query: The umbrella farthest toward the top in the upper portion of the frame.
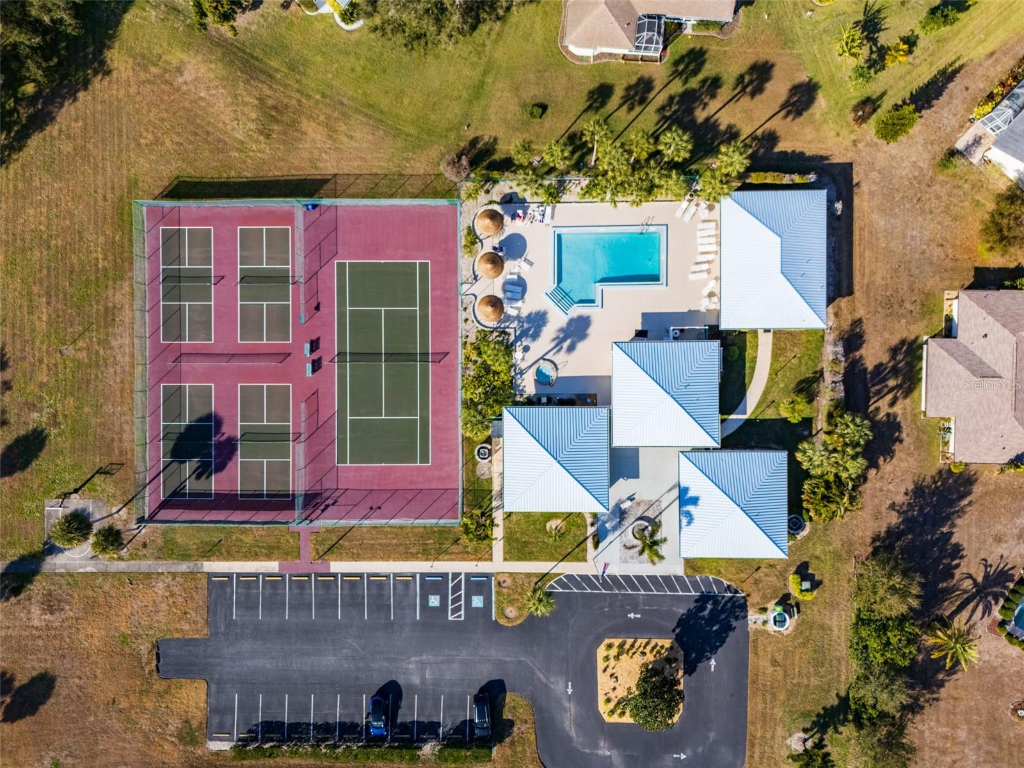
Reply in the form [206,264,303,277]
[474,207,505,238]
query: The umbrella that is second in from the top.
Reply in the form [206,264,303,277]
[475,251,506,281]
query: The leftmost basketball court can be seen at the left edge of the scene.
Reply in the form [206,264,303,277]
[45,500,106,561]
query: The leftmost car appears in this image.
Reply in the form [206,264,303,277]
[369,695,388,734]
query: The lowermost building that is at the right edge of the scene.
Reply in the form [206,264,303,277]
[923,290,1024,463]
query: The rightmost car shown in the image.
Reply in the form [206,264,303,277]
[474,693,494,736]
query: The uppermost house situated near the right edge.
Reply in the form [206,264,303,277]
[978,77,1024,186]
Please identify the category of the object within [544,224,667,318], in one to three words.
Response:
swimming pool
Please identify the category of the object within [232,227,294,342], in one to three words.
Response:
sports court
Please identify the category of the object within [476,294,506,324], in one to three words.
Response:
umbrella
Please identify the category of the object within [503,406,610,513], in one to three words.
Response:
building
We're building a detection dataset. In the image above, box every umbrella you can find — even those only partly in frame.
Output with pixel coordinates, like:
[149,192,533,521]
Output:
[476,294,506,324]
[475,251,506,281]
[474,207,505,238]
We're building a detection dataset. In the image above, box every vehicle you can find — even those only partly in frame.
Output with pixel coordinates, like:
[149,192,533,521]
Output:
[369,695,388,734]
[474,693,494,736]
